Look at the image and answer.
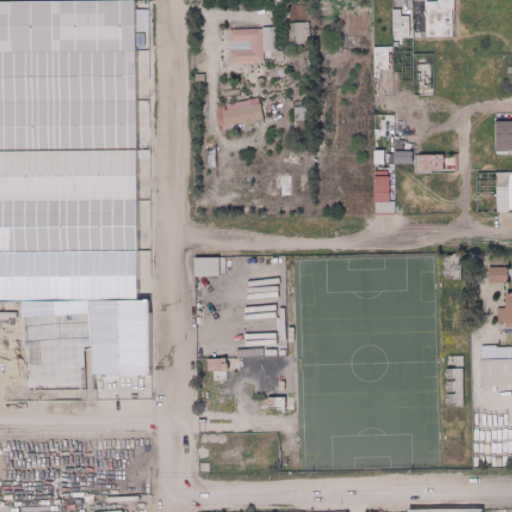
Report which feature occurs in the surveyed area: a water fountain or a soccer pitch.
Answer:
soccer pitch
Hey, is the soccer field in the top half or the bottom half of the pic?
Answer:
bottom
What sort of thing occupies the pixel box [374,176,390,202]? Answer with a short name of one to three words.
barn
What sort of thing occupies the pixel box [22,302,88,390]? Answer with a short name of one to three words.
building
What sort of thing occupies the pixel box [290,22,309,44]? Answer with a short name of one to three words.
house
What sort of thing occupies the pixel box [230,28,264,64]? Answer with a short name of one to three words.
house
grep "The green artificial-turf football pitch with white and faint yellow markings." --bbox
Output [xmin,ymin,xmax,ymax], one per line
[298,254,442,470]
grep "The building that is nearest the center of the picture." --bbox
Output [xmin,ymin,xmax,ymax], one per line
[195,258,219,277]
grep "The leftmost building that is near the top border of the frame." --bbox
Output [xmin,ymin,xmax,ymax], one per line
[0,1,137,150]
